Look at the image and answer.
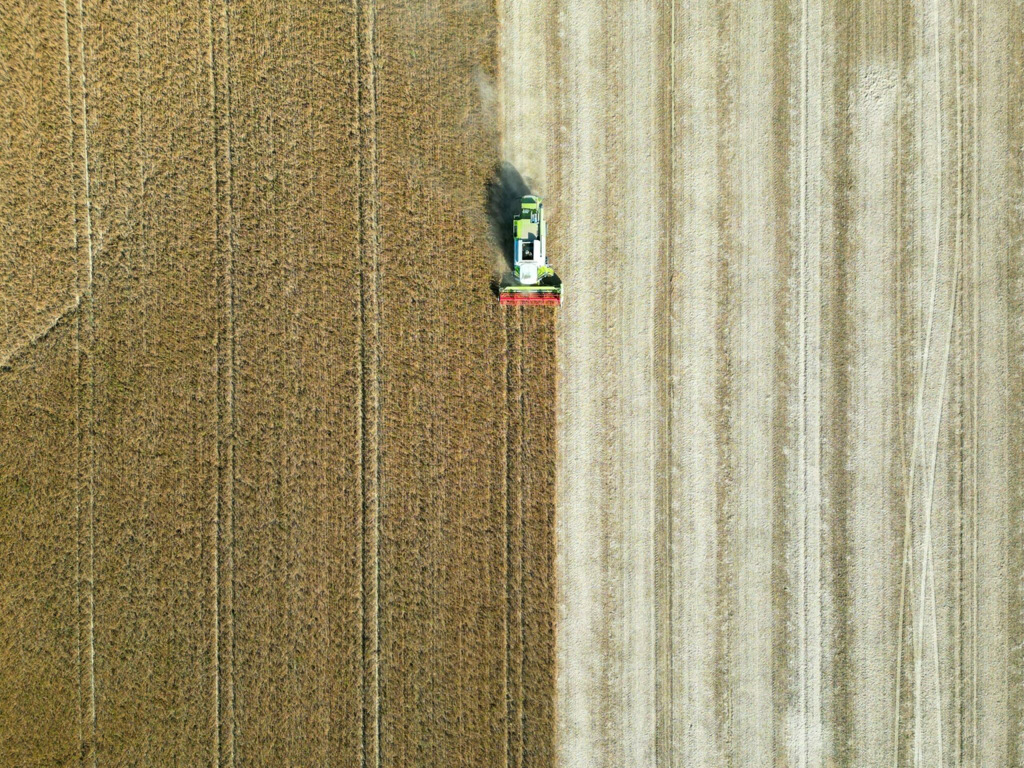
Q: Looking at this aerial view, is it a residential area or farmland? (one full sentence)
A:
What you see here is farmland.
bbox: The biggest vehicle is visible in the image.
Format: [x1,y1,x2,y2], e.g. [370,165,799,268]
[498,194,563,307]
